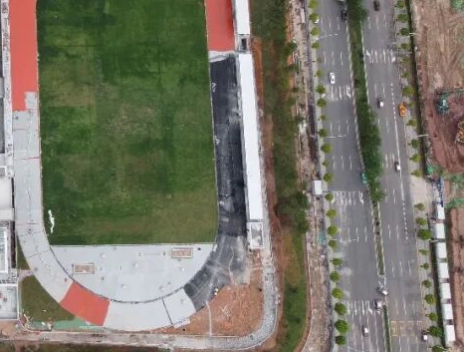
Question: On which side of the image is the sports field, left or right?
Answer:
left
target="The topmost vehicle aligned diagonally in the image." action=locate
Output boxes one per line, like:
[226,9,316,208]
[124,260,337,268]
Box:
[437,87,454,111]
